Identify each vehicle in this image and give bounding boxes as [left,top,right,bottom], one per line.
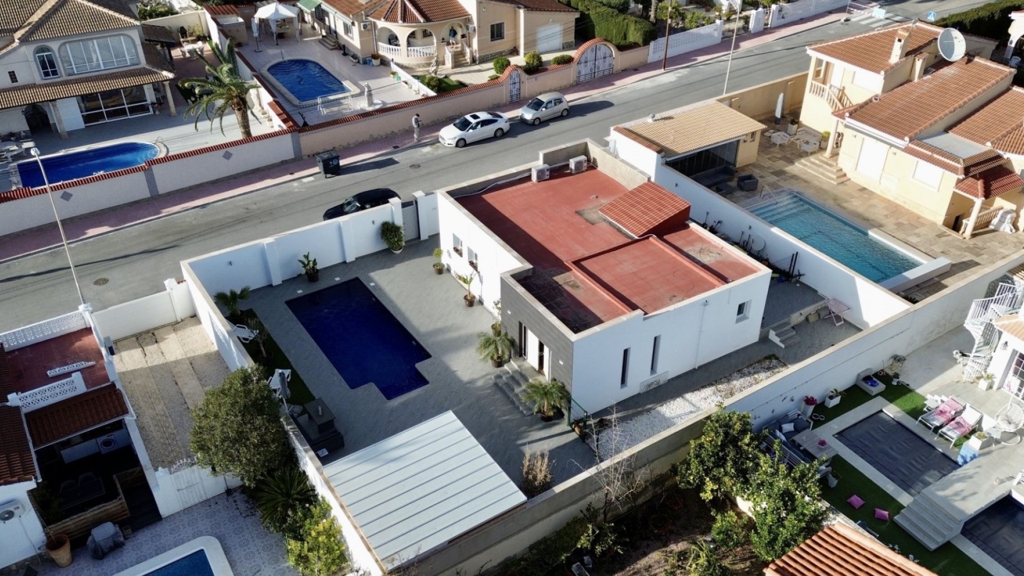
[317,180,407,221]
[516,88,569,125]
[435,111,511,149]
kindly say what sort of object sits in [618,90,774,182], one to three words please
building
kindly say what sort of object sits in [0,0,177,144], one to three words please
house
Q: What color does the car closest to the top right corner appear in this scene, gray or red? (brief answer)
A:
gray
